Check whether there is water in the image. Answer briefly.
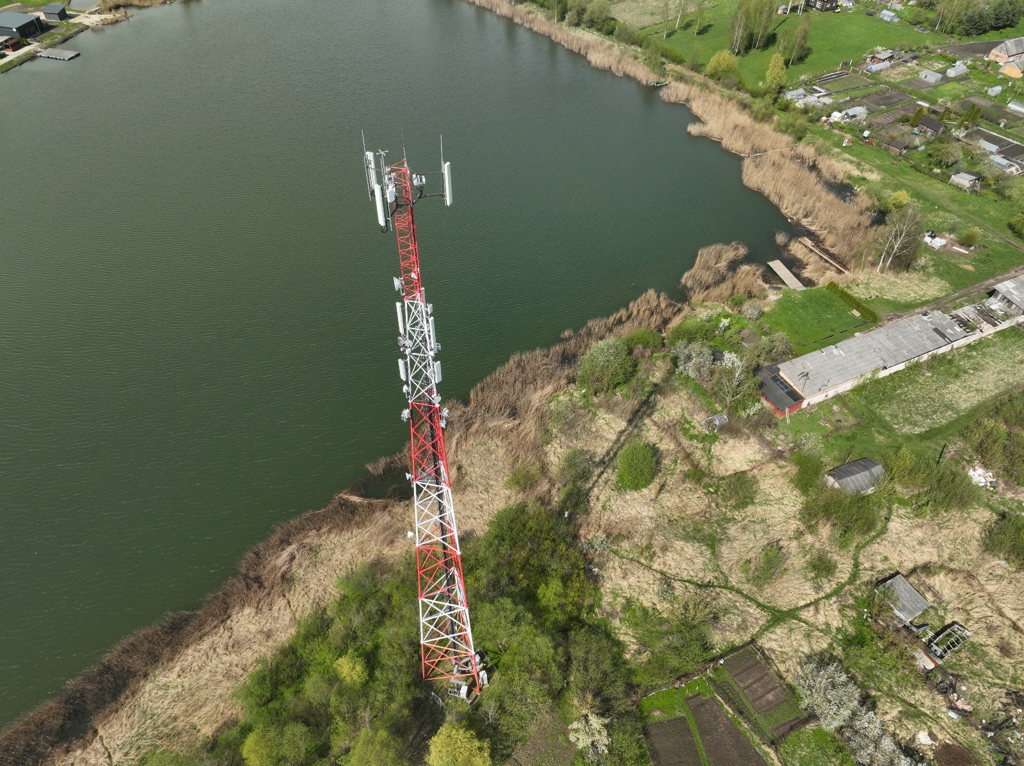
Yes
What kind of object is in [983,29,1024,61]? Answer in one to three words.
house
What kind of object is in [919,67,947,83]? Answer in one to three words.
greenhouse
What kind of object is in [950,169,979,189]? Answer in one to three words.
shed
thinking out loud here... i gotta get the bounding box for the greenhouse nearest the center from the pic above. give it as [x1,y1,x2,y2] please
[701,410,729,430]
